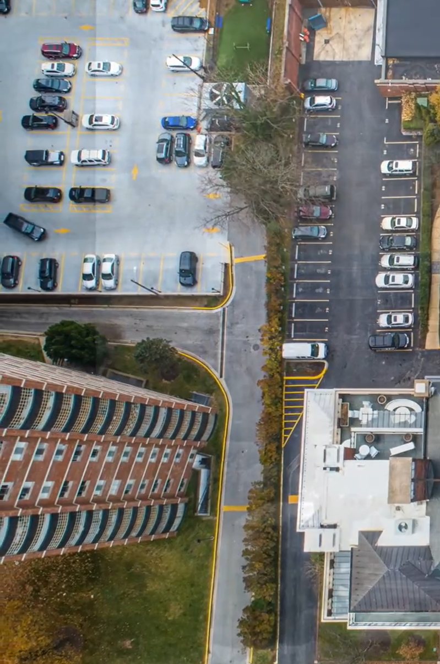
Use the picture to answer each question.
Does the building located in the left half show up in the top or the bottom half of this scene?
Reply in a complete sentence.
The bottom half of the photo is where the building located in the left half is.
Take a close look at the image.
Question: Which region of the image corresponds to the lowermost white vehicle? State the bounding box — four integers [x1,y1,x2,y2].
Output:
[282,343,325,359]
